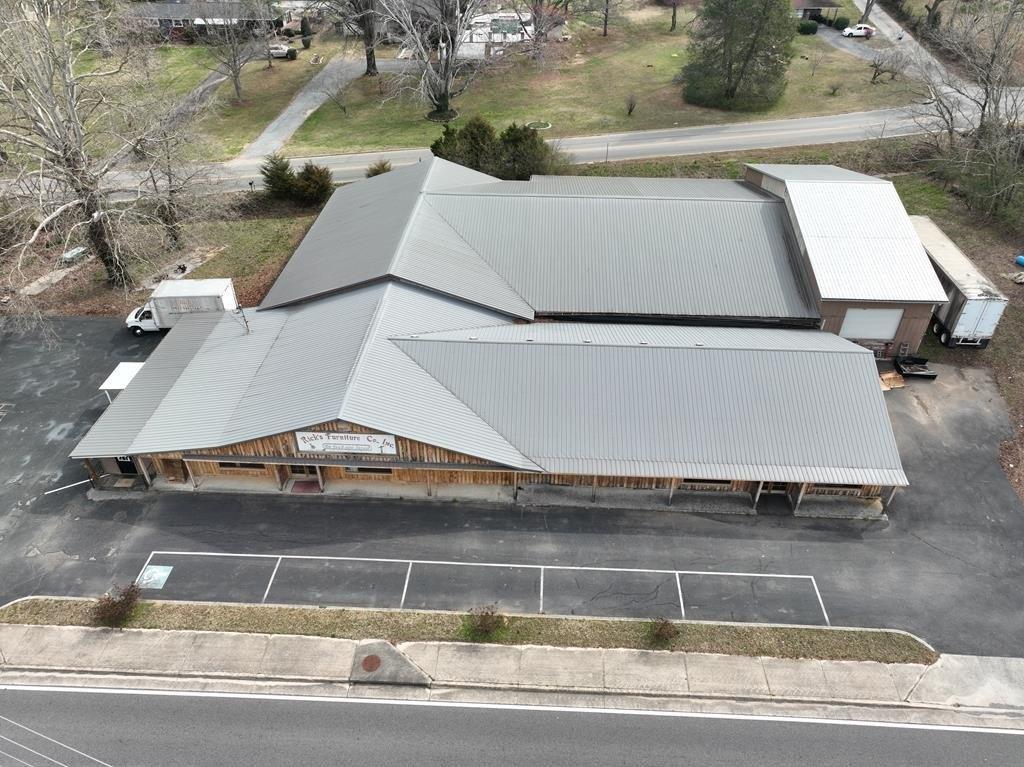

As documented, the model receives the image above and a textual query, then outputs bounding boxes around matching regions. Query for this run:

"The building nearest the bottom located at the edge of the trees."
[72,288,913,522]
